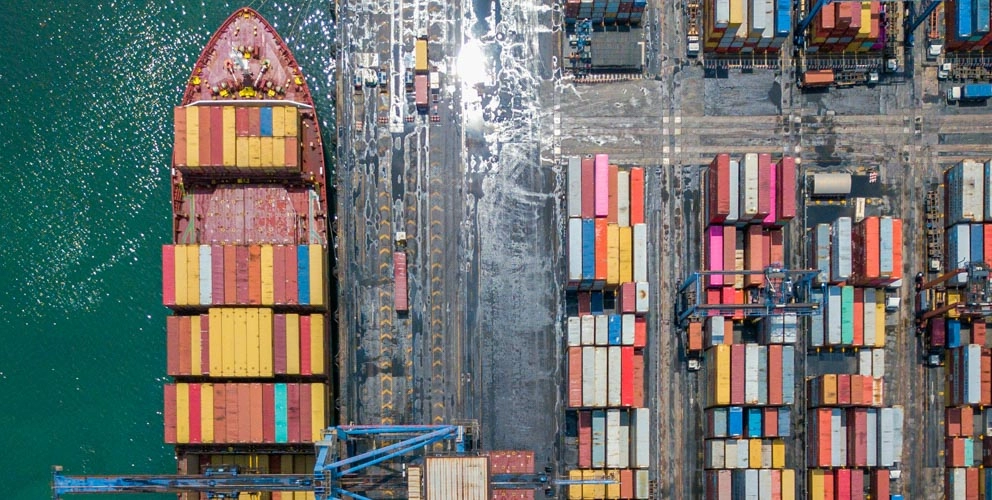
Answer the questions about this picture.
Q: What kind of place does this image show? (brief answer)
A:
port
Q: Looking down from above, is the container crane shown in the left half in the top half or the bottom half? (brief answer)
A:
bottom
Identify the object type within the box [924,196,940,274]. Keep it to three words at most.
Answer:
vehicle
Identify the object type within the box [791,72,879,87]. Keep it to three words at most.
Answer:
vehicle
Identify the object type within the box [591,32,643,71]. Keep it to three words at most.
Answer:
shed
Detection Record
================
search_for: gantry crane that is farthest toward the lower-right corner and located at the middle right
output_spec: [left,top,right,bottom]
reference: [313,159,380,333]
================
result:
[919,266,992,326]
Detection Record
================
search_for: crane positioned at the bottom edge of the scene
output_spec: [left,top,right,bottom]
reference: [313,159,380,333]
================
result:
[50,421,606,500]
